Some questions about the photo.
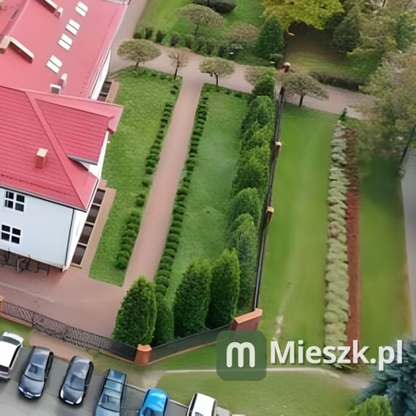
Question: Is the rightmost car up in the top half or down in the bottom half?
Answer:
bottom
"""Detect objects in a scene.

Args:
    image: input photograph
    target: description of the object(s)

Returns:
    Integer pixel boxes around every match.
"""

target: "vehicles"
[137,384,176,416]
[54,353,99,411]
[182,385,221,416]
[14,345,59,403]
[0,333,27,385]
[89,367,133,416]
